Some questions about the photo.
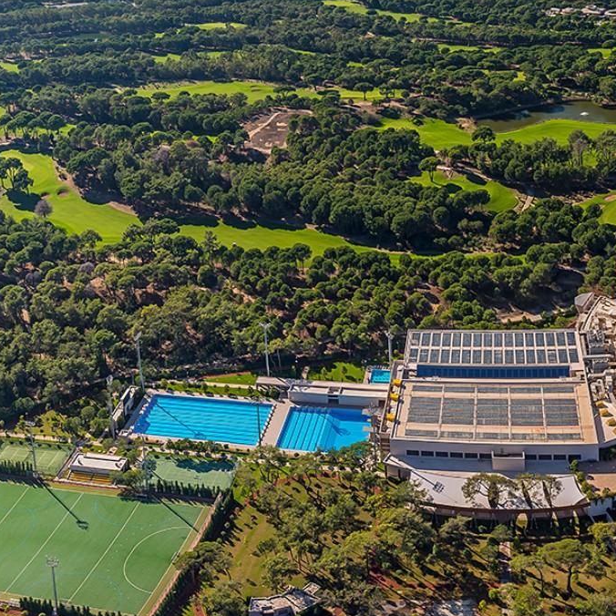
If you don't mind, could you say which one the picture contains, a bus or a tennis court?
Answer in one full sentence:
It is a tennis court that can be seen here.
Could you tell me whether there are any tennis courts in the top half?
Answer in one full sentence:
No, no tennis court can be made out in the top half.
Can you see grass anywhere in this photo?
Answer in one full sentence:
Yes, there's grass in this view.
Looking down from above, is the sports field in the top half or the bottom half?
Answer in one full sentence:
You can find the sports field in the bottom half.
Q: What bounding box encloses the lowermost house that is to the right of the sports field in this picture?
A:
[249,581,321,616]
